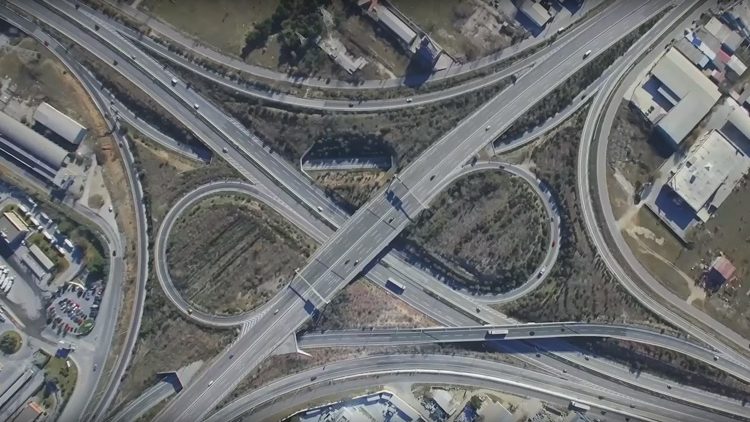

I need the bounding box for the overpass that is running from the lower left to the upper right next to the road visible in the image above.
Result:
[313,192,408,283]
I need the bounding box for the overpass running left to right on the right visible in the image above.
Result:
[439,323,576,341]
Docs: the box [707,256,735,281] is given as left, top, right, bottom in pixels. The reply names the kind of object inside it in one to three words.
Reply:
house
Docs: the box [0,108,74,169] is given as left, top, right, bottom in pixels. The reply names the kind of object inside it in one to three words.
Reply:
shed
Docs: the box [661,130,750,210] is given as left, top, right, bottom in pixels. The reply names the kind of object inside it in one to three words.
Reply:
building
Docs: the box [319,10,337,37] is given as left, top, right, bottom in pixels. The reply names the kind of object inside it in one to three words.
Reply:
pylon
